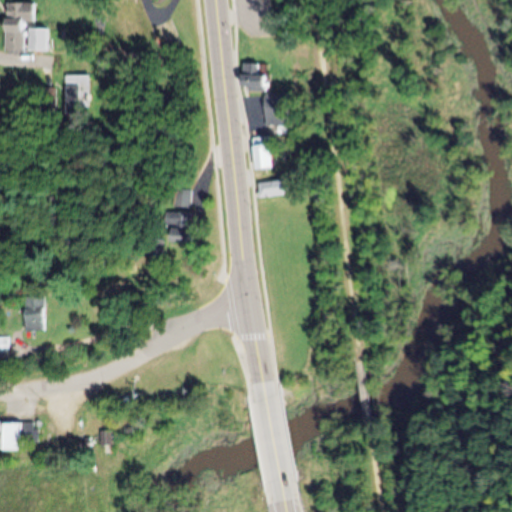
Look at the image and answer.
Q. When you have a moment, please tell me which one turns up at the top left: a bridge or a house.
house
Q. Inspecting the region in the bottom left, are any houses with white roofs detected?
Yes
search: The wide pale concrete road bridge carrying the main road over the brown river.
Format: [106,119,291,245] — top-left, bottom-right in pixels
[248,382,302,503]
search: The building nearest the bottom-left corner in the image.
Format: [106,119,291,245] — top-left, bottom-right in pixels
[0,422,40,451]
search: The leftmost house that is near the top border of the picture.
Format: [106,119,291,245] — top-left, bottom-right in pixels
[4,2,36,54]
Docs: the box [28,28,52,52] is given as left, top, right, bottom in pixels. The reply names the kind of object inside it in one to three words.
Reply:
building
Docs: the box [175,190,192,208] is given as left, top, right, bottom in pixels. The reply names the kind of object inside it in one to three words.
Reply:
building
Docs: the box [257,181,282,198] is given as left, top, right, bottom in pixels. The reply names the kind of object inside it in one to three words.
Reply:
house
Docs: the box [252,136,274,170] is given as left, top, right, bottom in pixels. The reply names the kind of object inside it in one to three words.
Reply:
house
